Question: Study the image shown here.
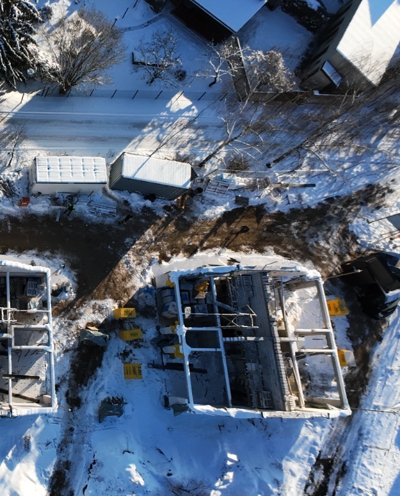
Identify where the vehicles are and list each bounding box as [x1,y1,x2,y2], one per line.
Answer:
[331,255,400,323]
[363,246,400,287]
